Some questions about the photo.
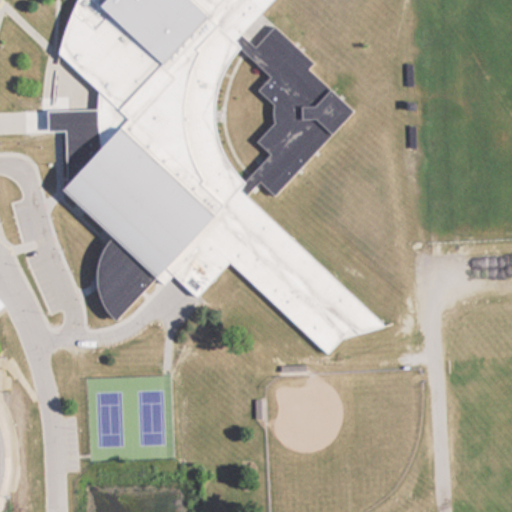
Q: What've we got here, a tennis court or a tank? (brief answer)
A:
tennis court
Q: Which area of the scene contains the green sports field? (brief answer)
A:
top right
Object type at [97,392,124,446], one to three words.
tennis court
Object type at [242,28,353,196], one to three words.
building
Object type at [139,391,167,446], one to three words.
tennis court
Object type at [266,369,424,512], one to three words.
baseball field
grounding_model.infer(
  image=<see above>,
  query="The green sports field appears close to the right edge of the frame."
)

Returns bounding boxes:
[412,0,512,240]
